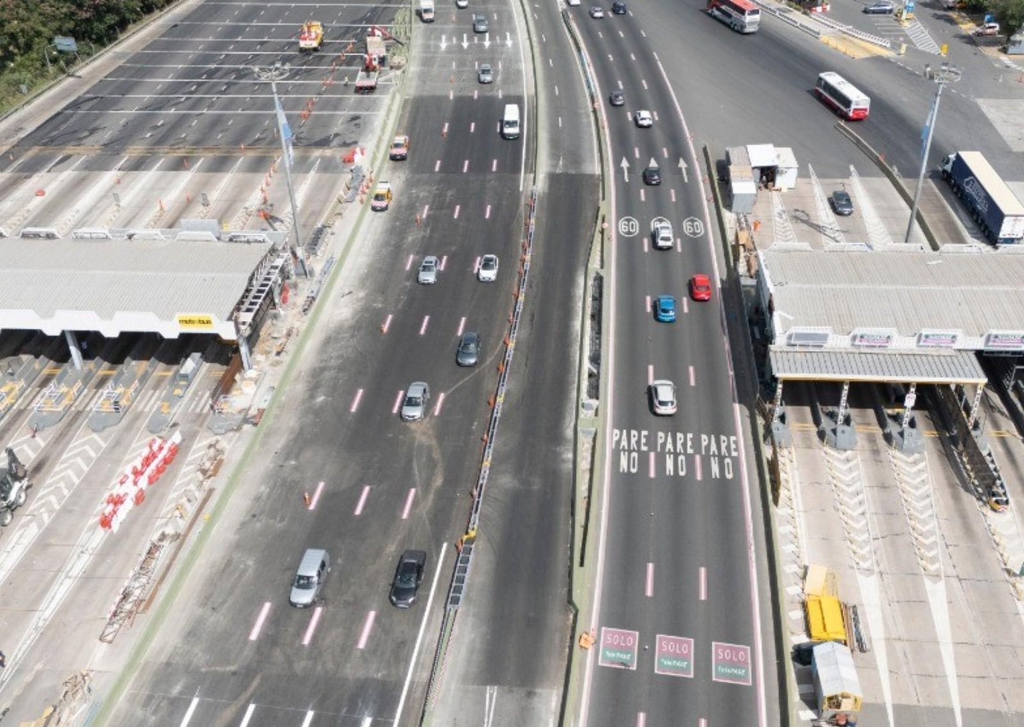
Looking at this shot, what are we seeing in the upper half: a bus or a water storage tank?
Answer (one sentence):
There is a bus in the upper half.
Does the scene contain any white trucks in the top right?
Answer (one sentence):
Yes, a white truck shows up in the top right.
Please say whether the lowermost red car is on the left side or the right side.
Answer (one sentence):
The lowermost red car sits on the right side.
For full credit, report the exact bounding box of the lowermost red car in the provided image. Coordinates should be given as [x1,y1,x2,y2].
[690,272,713,298]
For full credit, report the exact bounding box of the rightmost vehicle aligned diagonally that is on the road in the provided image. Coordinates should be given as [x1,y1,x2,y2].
[947,148,1024,247]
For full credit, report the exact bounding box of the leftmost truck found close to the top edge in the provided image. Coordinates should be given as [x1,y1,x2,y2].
[299,12,330,48]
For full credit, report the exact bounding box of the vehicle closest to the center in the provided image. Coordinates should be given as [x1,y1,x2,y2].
[457,329,484,364]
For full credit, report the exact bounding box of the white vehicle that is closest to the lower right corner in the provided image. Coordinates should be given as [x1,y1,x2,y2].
[652,374,680,412]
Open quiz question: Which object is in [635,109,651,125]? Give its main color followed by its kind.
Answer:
white car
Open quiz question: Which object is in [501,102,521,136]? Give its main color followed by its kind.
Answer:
white vehicle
